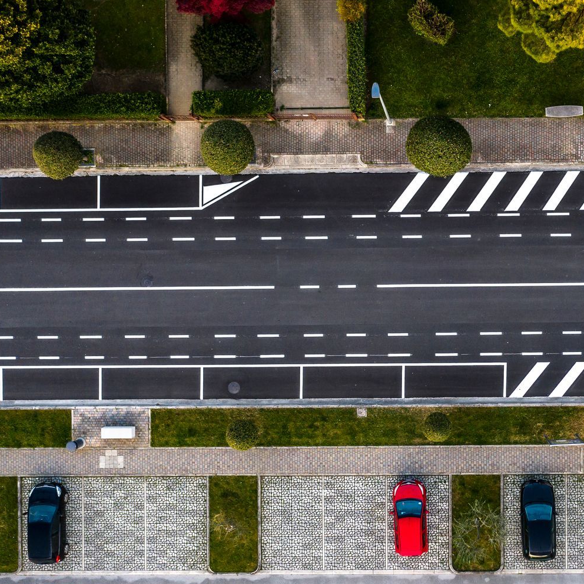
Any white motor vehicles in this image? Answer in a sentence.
No, no white motor vehicle is visible in the view.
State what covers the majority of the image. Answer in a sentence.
The bulk of the photo consists of paved ground.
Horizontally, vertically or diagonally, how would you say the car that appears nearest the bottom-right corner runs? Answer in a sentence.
Seen from above, the car that appears nearest the bottom-right corner lies vertically.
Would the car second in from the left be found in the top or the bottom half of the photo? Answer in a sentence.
Seen from above, the car second in from the left lies in the bottom half of the view.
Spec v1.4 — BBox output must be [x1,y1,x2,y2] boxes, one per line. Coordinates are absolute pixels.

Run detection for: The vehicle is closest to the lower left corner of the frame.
[21,480,70,565]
